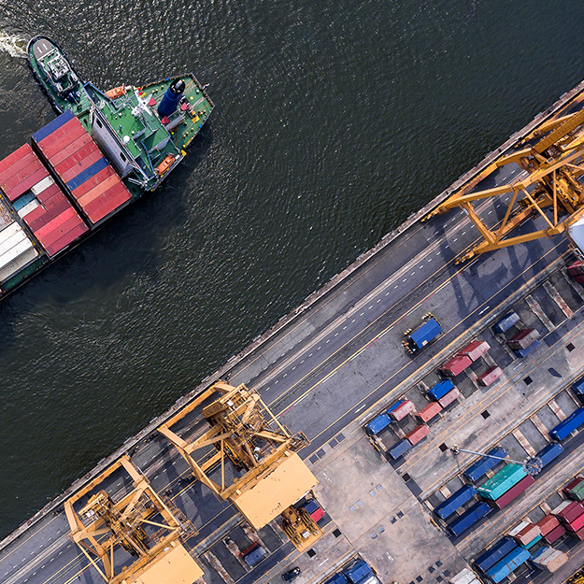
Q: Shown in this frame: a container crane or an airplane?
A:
container crane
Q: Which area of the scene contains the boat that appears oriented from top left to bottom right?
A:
top left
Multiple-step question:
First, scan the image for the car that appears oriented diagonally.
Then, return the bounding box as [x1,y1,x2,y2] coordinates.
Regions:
[283,567,299,580]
